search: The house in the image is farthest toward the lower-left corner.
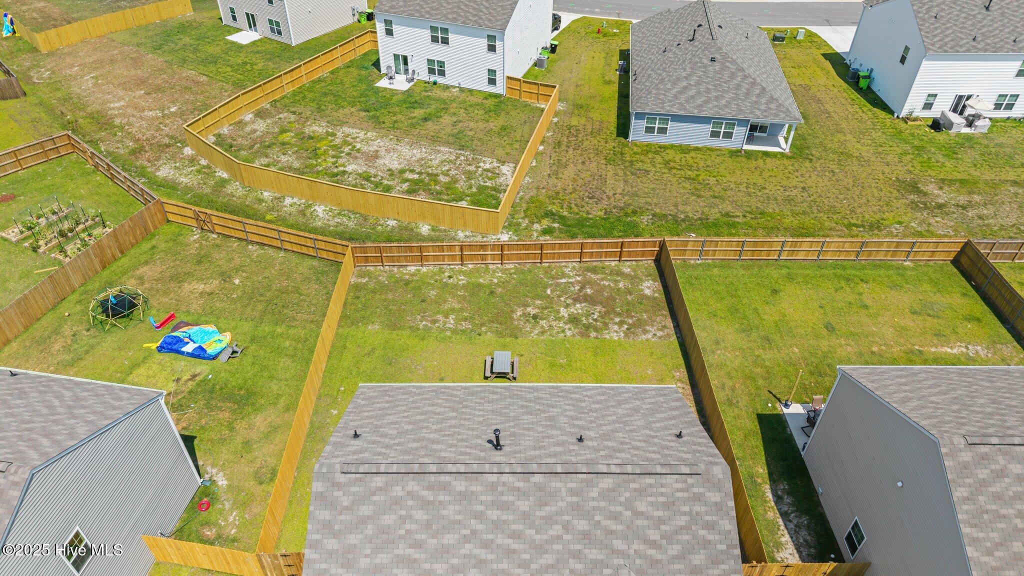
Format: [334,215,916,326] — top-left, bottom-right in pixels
[0,364,203,576]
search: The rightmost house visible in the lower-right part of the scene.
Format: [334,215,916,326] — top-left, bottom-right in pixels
[802,365,1024,576]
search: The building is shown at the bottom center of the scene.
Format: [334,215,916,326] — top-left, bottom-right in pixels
[297,382,741,576]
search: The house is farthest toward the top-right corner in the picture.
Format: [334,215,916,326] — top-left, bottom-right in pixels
[845,0,1024,118]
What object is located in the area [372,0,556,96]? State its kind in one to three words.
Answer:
house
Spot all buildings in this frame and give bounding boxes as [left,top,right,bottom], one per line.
[372,0,556,96]
[802,365,1024,576]
[297,382,741,576]
[845,0,1024,118]
[0,364,203,576]
[628,0,805,151]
